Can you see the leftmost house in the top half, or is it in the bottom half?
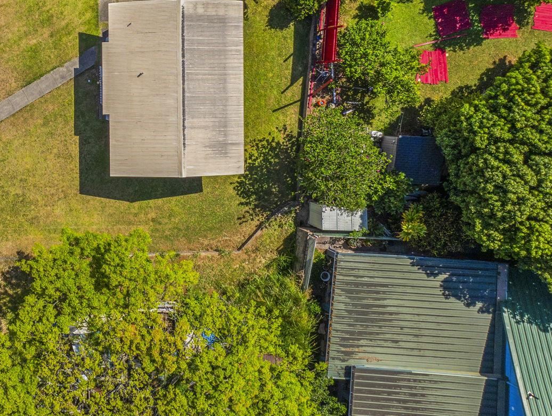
top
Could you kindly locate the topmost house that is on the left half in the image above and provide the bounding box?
[101,0,244,178]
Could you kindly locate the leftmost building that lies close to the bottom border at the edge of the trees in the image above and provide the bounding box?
[324,252,508,416]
